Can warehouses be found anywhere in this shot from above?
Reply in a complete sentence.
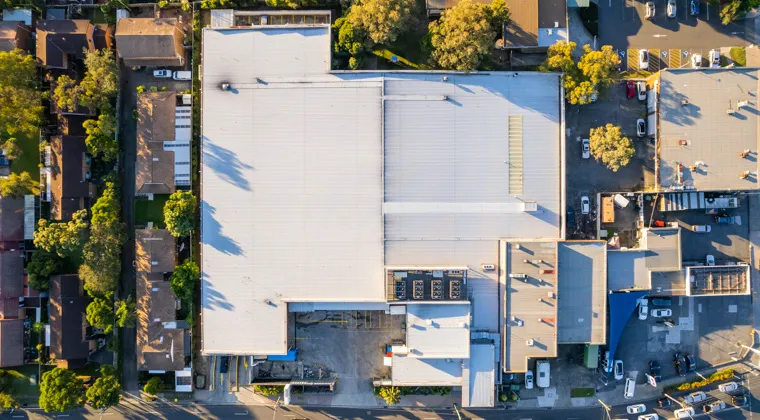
Yes, the frame does contain a warehouse.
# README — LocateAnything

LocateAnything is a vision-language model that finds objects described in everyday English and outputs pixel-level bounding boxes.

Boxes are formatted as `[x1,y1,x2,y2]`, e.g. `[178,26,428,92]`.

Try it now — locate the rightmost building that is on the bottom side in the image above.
[680,262,750,296]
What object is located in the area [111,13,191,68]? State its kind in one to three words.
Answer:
house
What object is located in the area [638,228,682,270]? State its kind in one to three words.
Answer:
building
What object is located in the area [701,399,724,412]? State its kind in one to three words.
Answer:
vehicle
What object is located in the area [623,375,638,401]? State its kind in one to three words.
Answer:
vehicle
